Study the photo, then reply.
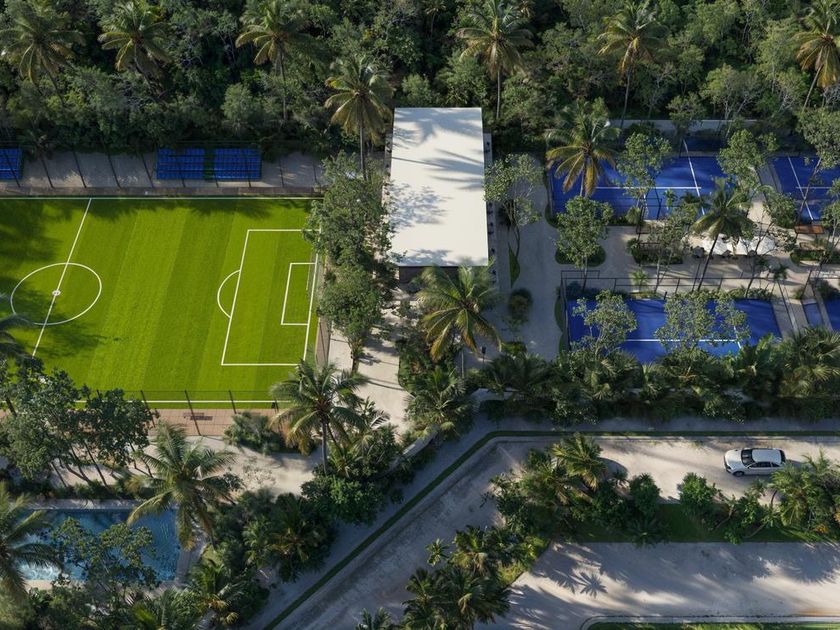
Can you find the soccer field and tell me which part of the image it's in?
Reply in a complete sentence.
The soccer field sits in the left section of the image.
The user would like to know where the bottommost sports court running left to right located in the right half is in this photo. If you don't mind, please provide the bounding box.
[563,269,803,380]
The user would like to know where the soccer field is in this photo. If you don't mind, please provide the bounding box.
[0,186,336,435]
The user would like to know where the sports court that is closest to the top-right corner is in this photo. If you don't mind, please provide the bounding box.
[754,127,840,221]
